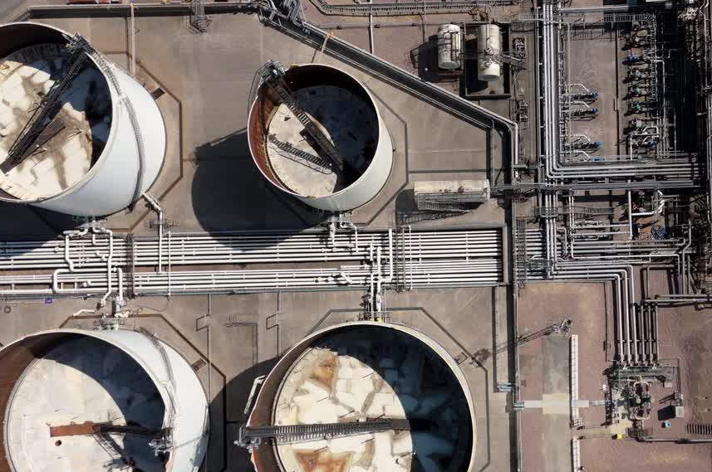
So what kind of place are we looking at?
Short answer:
industrial area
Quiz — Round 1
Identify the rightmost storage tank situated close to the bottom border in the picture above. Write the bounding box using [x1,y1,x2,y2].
[235,320,477,472]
